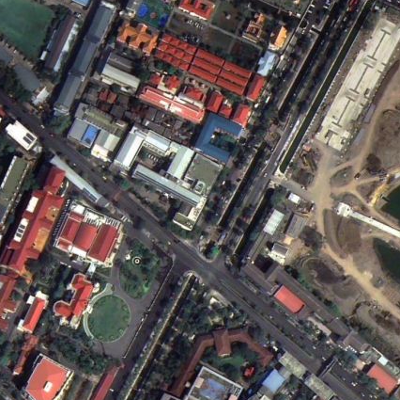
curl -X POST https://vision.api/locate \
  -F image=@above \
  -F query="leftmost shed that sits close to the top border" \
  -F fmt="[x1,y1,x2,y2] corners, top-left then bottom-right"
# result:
[47,14,80,72]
